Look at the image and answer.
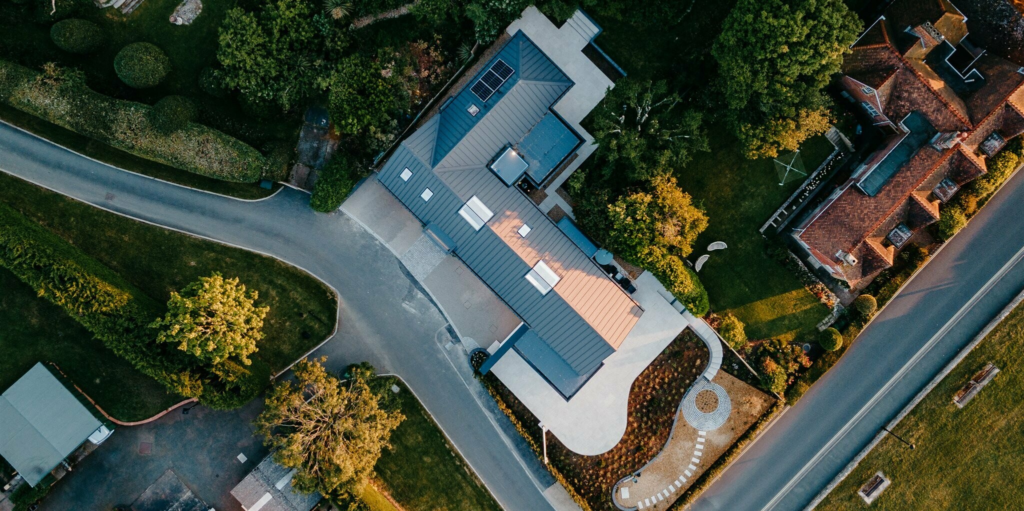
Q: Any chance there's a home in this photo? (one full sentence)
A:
Yes, this view includes a home.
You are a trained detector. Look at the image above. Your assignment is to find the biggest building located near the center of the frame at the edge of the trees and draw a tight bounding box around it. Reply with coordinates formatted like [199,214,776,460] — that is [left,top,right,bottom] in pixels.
[376,28,646,402]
